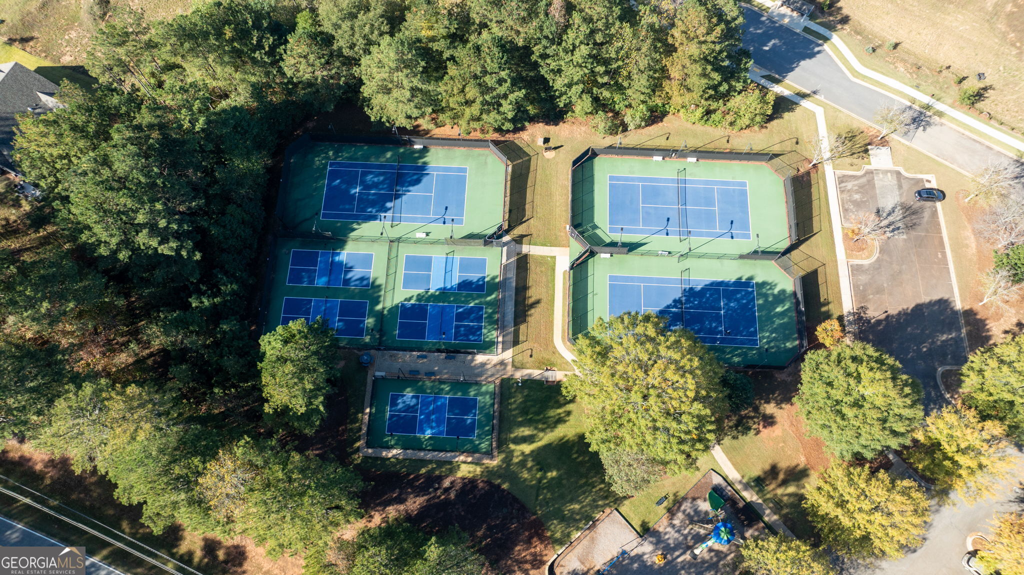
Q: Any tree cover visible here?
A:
Yes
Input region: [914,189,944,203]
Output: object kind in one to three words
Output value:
car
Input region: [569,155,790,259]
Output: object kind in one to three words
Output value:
tennis court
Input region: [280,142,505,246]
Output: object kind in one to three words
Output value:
tennis court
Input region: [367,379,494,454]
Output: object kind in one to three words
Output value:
sports court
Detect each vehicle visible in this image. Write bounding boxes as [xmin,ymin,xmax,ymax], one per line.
[914,189,944,203]
[961,555,986,575]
